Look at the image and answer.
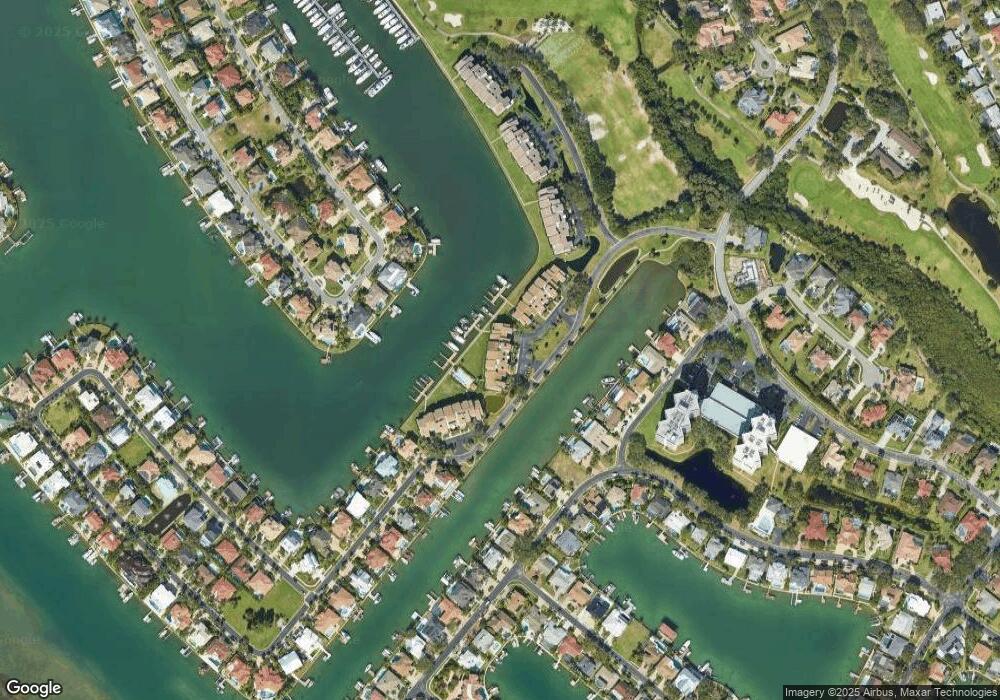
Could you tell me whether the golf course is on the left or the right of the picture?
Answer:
right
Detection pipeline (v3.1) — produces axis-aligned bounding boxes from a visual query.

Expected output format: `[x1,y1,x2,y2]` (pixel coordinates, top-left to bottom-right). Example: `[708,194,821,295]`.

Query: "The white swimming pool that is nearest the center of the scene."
[450,363,476,388]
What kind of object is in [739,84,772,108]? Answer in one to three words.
house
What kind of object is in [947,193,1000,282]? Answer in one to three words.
pond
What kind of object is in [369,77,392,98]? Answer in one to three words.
boat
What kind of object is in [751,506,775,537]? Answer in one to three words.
swimming pool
